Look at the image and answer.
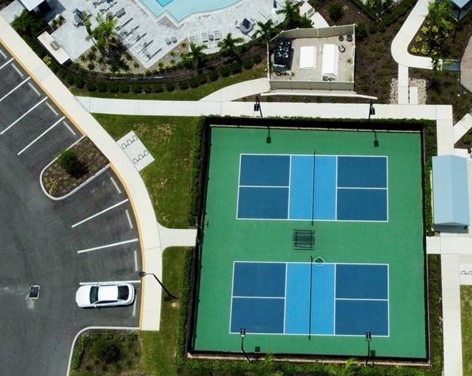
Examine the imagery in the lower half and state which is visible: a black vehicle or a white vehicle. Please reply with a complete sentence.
The feature located in the lower half is a white vehicle.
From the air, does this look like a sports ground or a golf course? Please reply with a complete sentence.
The picture captures a sports ground.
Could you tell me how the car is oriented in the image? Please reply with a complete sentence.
I'd say the car is aligned from side to side in the picture.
